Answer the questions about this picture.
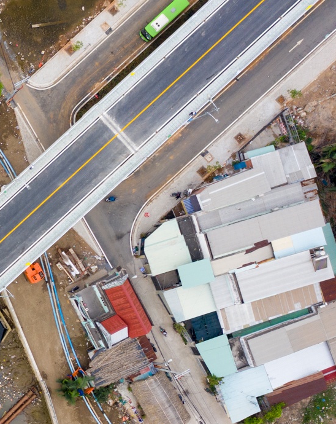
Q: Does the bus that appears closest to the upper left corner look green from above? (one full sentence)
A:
Yes, the bus that appears closest to the upper left corner is indeed green.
